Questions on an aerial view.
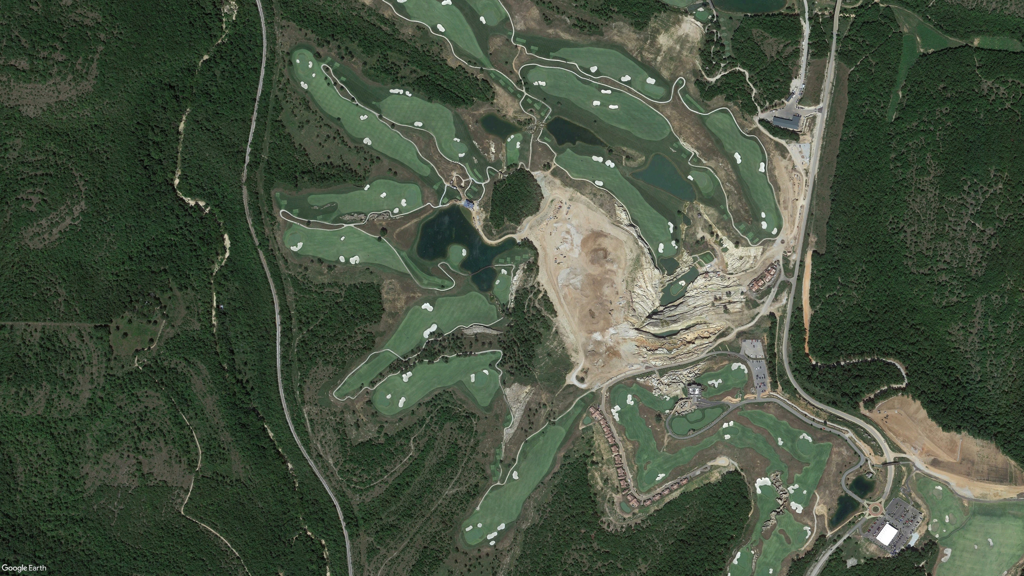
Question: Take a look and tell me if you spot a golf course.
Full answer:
Yes, the picture does show a golf course.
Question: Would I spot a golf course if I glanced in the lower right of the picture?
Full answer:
Yes, a golf course is visible in the lower right of the picture.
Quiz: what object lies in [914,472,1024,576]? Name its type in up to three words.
golf course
